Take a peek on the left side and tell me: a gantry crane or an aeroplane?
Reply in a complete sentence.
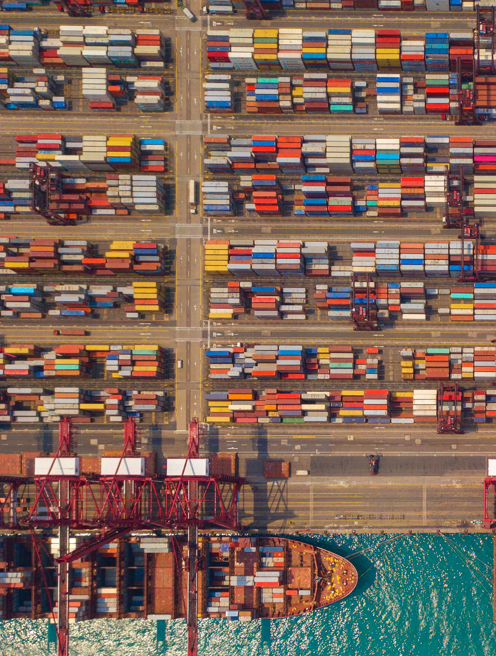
The feature located on the left side is a gantry crane.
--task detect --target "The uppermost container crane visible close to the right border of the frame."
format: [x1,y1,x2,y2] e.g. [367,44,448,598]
[472,6,496,74]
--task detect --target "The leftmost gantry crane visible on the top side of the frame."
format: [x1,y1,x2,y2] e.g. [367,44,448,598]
[32,162,72,224]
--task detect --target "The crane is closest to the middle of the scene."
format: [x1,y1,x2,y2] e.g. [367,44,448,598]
[351,272,380,330]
